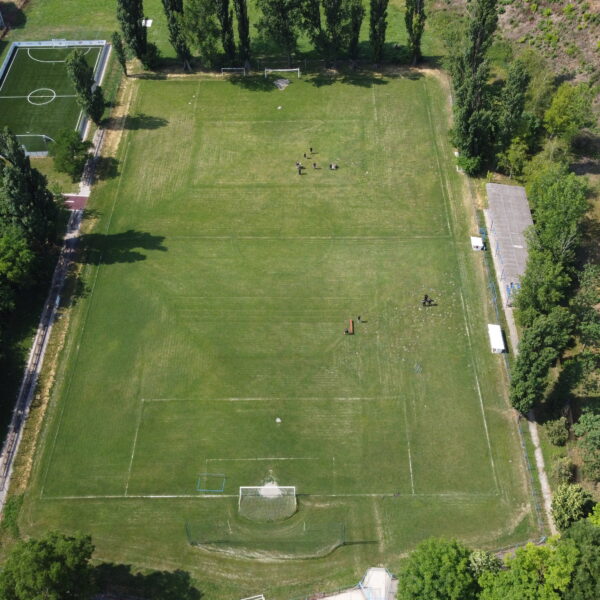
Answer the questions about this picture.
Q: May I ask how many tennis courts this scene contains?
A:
none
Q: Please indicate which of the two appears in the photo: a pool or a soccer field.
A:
soccer field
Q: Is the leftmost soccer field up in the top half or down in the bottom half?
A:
top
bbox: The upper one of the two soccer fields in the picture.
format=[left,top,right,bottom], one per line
[0,45,107,159]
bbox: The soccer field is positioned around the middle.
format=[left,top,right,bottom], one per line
[41,79,499,498]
